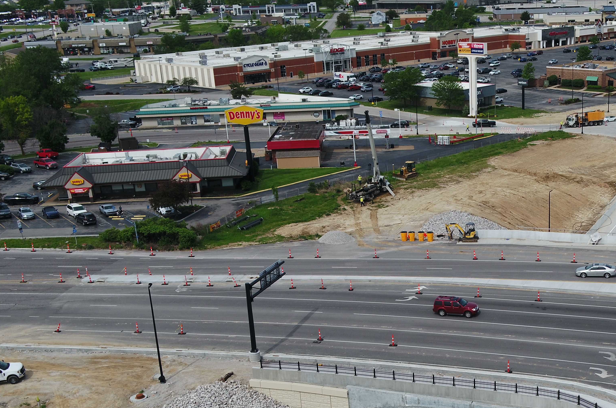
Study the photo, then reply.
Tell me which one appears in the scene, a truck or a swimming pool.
truck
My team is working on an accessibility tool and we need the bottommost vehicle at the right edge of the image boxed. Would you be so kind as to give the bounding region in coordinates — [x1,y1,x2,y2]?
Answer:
[573,262,616,278]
